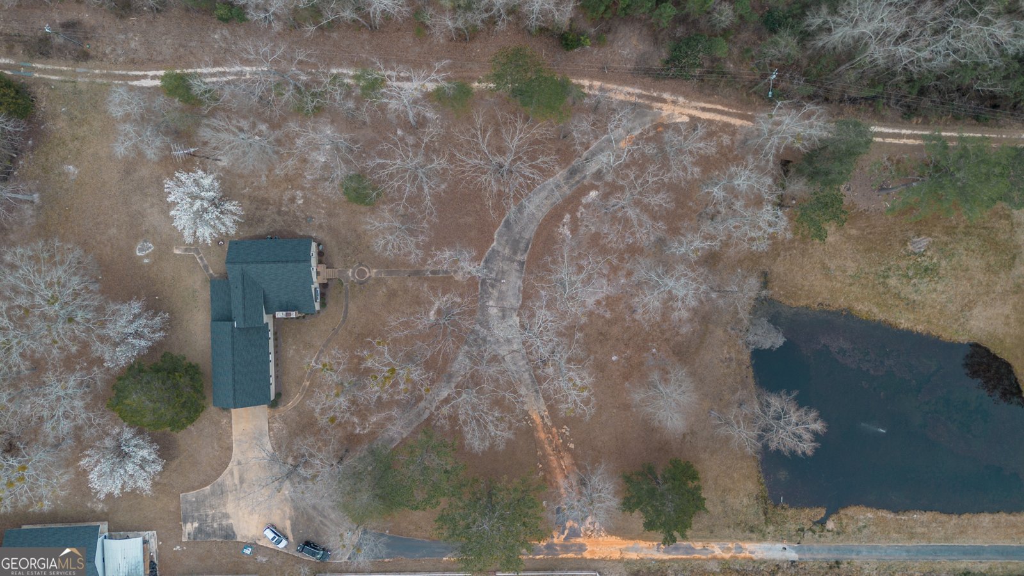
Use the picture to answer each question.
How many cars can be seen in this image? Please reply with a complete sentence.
Altogether the scene contains 2 cars.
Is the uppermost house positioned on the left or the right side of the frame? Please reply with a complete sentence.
The uppermost house appears in the left half of the scene.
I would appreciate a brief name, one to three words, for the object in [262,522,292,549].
car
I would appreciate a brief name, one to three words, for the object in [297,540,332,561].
car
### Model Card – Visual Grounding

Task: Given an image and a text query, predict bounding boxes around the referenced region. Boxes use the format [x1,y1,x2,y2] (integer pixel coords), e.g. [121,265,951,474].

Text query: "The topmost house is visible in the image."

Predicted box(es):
[211,239,342,409]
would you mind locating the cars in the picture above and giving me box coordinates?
[297,540,332,561]
[262,522,292,549]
